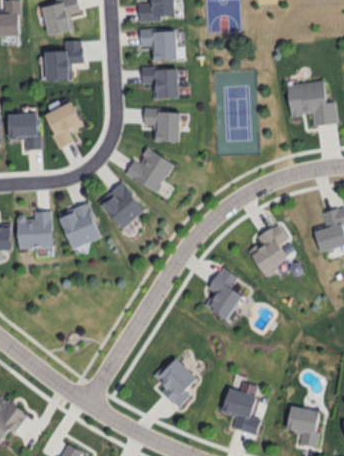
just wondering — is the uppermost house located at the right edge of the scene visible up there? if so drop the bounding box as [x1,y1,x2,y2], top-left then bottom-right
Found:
[288,82,339,127]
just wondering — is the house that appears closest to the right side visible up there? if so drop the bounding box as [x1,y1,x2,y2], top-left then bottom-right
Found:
[314,206,344,254]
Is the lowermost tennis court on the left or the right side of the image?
right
